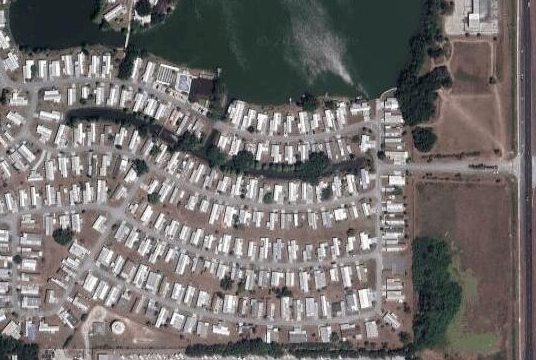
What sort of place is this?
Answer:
residential area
